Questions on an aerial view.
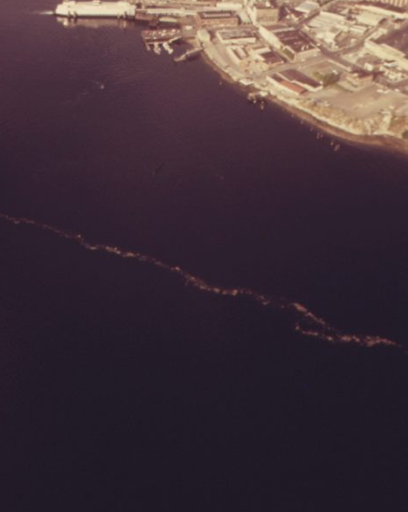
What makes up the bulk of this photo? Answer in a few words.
water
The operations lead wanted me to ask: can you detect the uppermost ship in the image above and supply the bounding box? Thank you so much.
[55,2,135,20]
